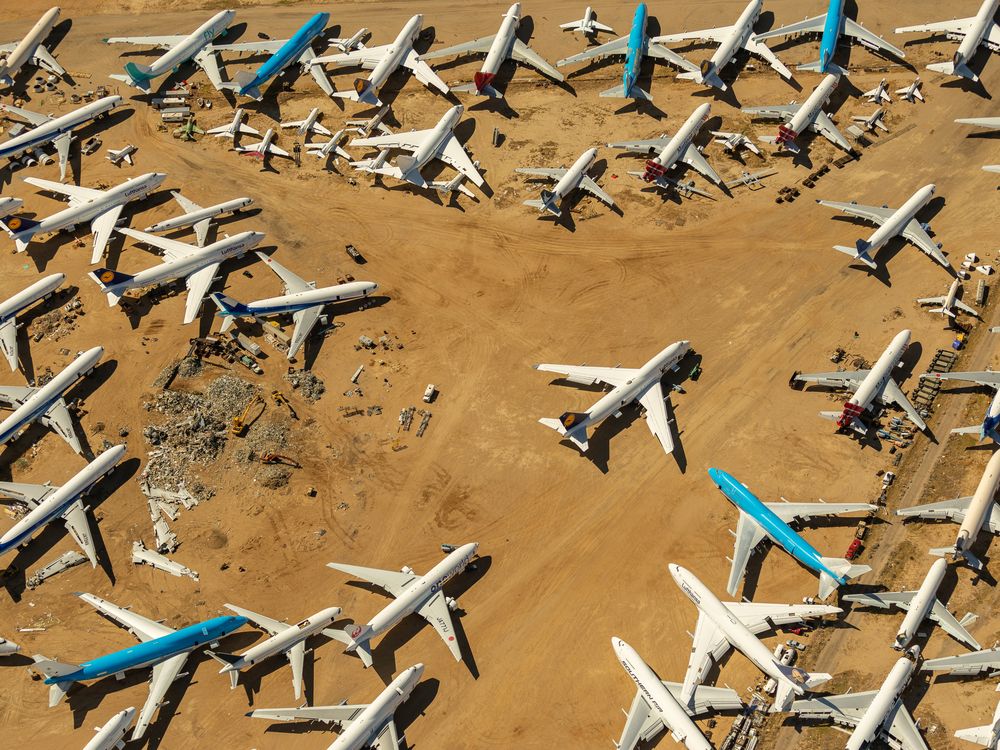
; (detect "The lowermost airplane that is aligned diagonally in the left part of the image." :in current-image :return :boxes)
[88,709,135,750]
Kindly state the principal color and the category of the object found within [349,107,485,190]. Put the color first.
white airplane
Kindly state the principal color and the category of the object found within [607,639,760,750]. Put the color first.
white airplane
